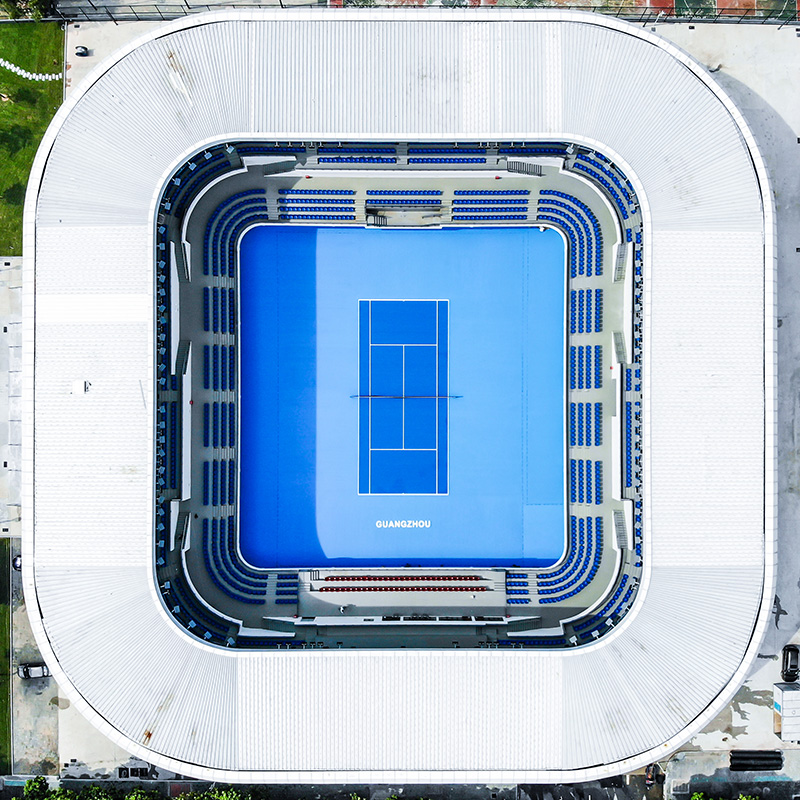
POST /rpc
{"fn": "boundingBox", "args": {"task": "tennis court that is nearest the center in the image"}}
[247,230,562,564]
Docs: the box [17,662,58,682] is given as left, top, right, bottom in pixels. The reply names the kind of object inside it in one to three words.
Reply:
car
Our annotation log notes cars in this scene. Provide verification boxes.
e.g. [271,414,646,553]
[780,644,800,683]
[17,662,58,682]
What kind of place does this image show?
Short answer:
sports ground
